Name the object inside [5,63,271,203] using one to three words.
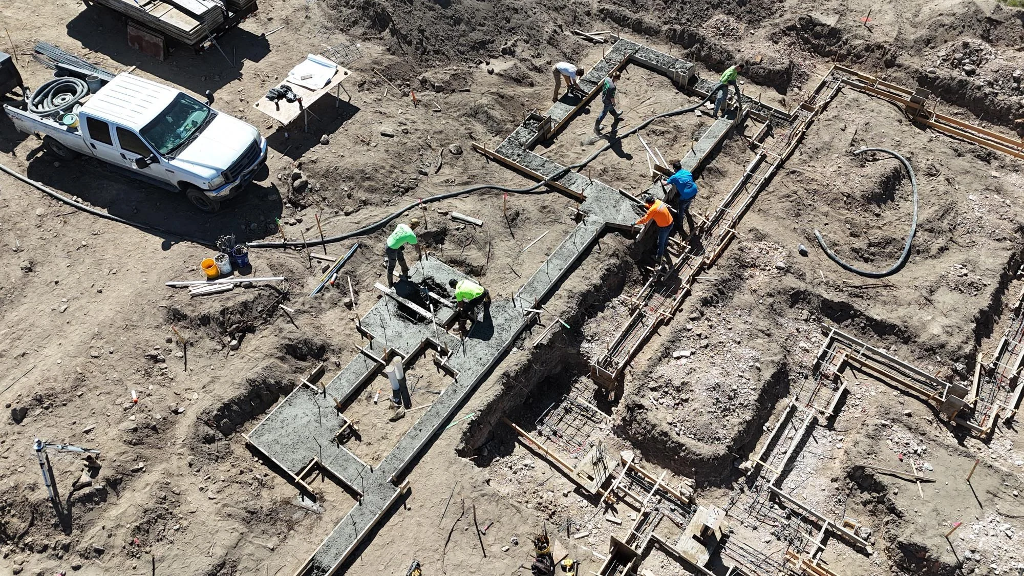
truck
